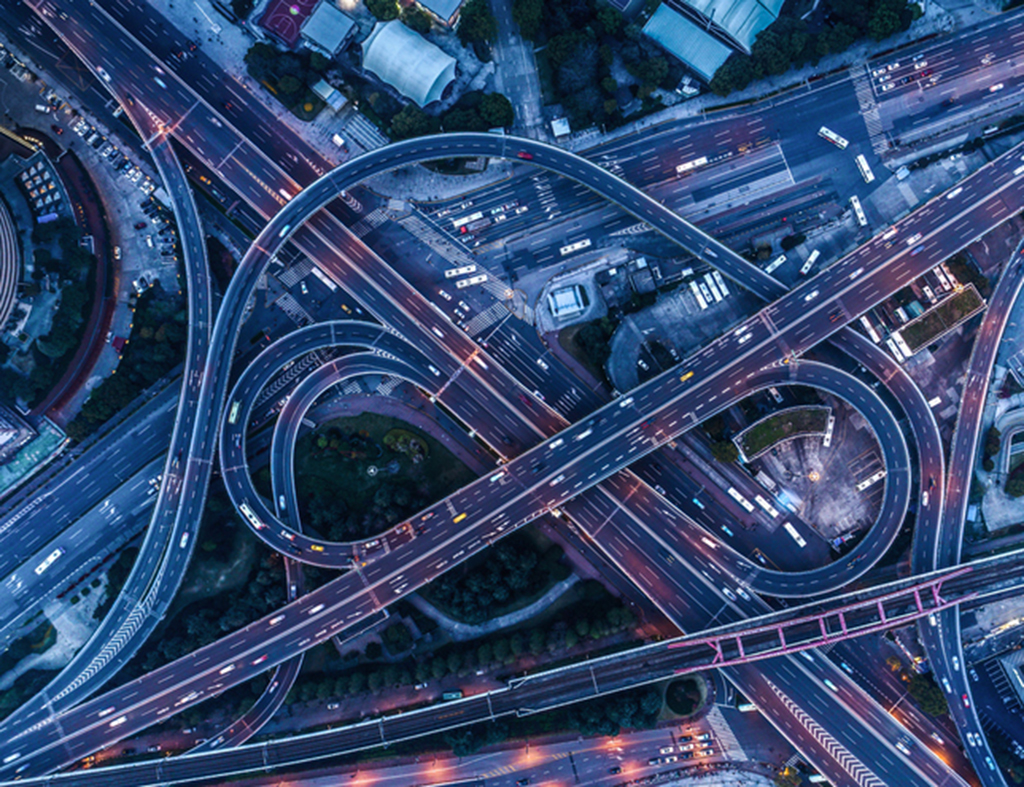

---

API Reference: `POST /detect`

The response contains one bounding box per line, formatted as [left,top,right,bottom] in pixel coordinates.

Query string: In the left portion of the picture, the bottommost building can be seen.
[334,604,390,643]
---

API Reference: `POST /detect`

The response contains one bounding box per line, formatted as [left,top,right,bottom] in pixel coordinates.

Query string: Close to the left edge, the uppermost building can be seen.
[0,150,81,227]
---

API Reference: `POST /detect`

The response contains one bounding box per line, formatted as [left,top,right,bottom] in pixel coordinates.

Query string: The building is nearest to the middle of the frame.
[549,286,586,317]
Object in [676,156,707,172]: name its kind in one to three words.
vehicle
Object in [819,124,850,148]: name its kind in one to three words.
bus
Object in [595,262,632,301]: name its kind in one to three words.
building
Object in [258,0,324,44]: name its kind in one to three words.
sports court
